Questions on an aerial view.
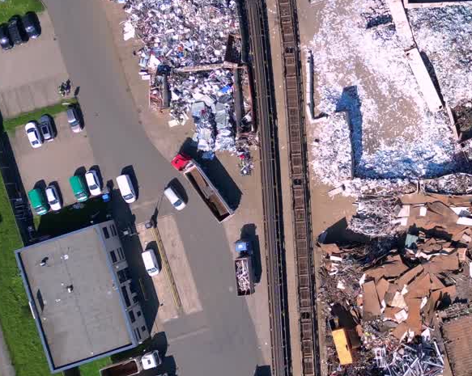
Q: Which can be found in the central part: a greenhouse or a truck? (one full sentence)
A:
What appears in the central part is a truck.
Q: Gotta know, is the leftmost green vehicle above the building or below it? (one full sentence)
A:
The leftmost green vehicle is found above the building in the photo.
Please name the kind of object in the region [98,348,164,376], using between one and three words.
truck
